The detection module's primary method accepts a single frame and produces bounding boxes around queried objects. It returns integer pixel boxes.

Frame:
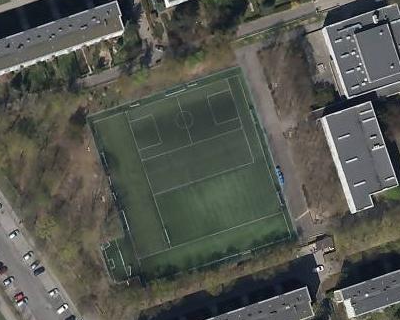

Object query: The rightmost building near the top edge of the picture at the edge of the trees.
[322,4,400,98]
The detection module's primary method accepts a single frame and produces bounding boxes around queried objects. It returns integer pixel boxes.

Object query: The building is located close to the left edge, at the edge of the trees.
[0,1,124,75]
